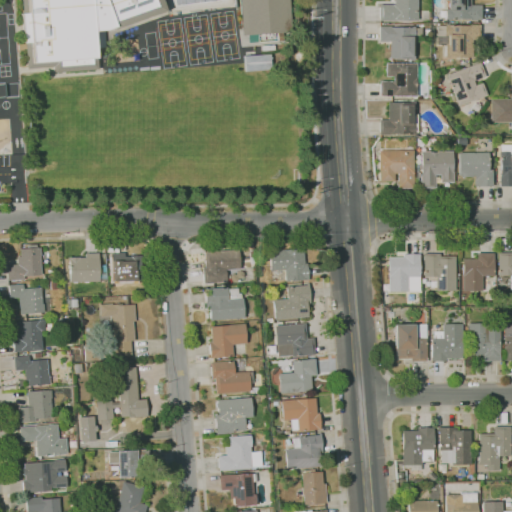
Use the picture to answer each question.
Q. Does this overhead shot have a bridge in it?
No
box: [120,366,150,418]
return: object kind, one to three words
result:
house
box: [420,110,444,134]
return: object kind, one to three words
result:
swimming pool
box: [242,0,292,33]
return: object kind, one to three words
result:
building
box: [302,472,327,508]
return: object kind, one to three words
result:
house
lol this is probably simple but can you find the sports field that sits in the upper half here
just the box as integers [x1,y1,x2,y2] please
[20,70,300,196]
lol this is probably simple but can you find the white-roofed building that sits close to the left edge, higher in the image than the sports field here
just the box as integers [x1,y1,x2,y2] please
[24,0,120,66]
